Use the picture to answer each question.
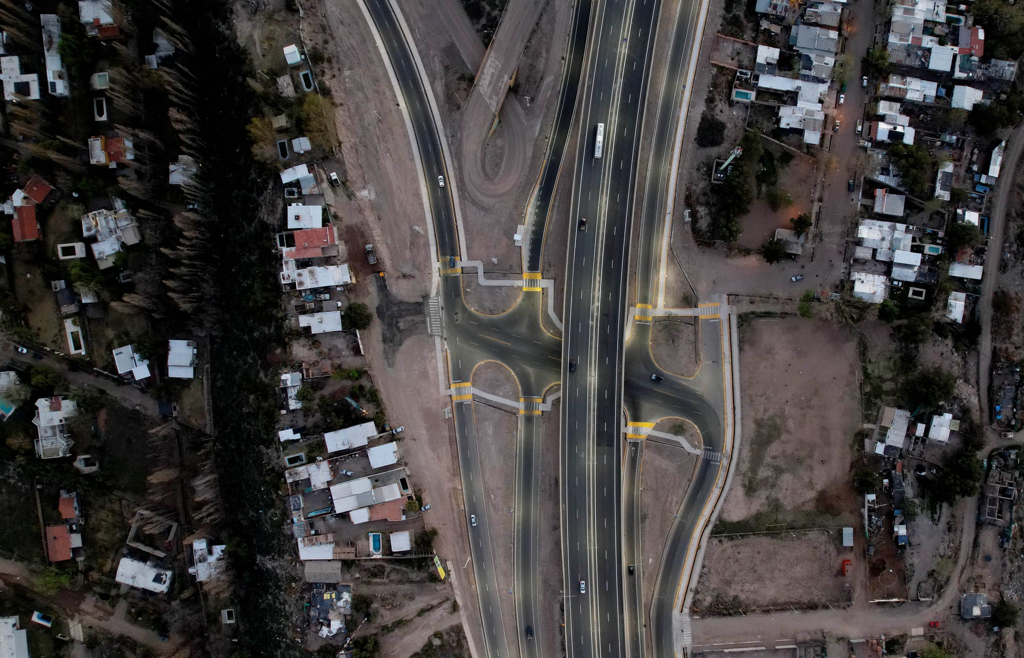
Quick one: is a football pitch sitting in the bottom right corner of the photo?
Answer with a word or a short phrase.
Yes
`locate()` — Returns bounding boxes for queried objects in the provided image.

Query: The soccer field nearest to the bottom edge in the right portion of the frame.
[696,530,848,612]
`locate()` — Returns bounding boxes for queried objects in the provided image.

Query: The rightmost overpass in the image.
[559,0,662,658]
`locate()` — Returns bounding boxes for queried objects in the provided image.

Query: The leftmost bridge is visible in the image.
[464,0,529,142]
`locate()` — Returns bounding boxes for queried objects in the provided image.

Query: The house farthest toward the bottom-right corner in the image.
[956,592,992,618]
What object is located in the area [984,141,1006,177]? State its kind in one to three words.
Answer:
shed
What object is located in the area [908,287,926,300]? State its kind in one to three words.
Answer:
swimming pool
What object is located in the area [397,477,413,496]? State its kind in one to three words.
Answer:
swimming pool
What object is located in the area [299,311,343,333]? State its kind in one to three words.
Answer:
house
